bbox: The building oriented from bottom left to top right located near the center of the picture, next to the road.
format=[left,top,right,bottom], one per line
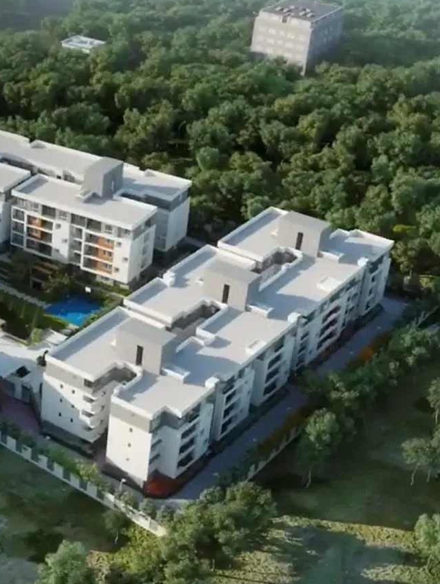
[47,205,393,486]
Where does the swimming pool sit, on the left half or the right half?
left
